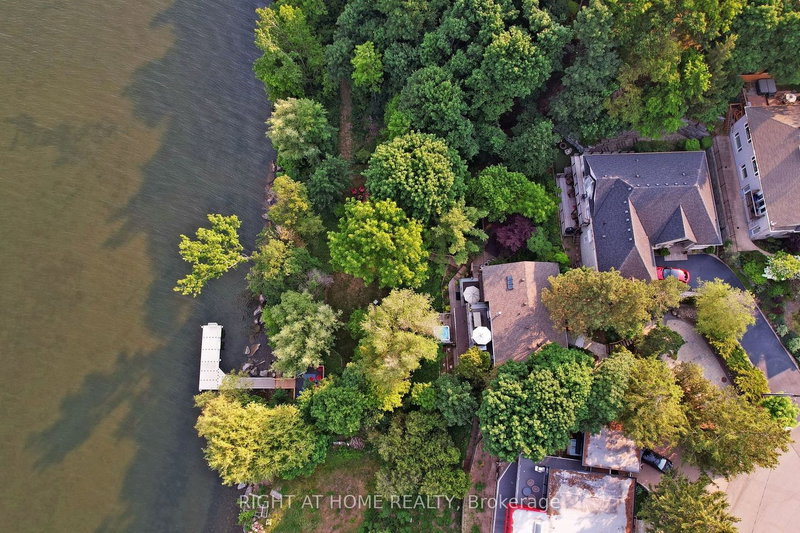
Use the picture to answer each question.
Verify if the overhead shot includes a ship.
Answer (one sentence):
No, there's no ship here.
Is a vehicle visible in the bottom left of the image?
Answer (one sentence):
No, I see no vehicle in the bottom left of the image.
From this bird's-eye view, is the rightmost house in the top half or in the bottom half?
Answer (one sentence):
The rightmost house is in the top half of the image.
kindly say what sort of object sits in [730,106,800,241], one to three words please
house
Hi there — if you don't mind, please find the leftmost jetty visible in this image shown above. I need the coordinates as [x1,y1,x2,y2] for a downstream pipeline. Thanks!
[197,321,226,390]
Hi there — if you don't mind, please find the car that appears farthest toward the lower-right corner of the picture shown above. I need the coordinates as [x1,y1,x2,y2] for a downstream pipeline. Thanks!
[641,448,677,476]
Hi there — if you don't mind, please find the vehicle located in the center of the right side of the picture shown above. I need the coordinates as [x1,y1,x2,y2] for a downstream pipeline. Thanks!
[658,265,692,284]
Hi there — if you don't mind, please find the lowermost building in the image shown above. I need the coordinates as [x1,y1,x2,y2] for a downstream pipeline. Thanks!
[505,469,637,533]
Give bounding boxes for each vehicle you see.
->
[658,265,692,284]
[641,448,677,476]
